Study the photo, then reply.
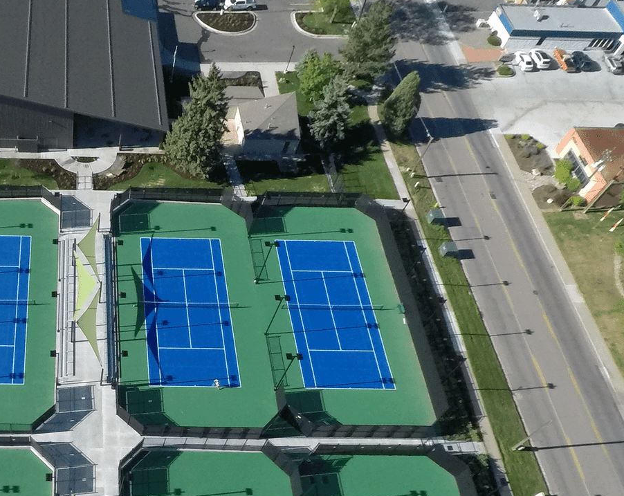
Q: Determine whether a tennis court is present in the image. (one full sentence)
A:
Yes, the image includes a tennis court.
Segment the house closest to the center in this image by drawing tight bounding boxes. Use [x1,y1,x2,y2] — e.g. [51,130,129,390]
[215,86,302,153]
